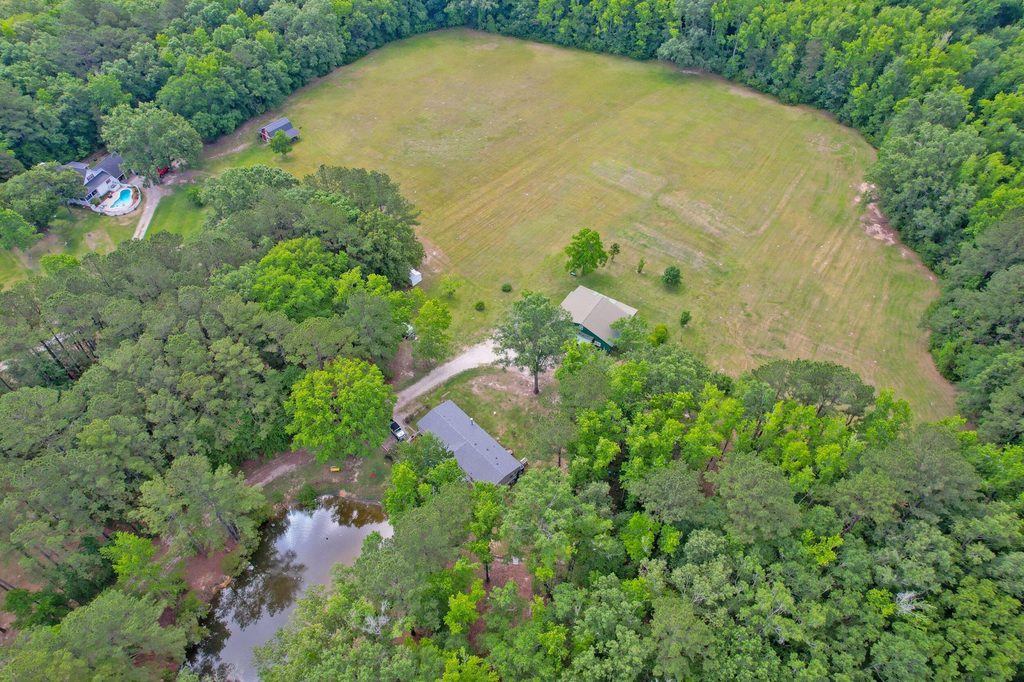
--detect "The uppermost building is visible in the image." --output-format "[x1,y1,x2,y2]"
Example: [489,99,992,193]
[260,117,302,150]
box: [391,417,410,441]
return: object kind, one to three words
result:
car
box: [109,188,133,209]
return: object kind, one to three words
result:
swimming pool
